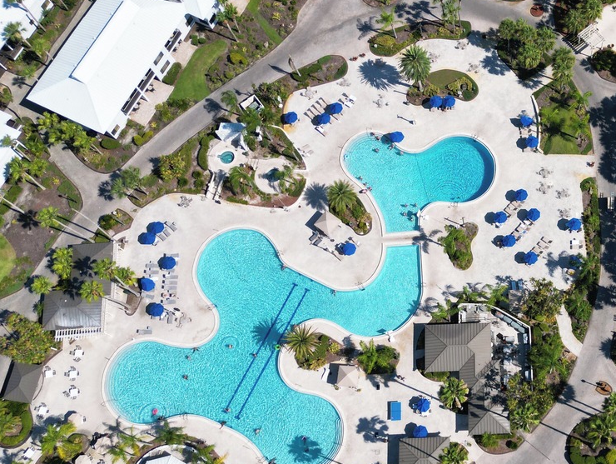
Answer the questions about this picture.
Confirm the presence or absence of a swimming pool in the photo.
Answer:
Yes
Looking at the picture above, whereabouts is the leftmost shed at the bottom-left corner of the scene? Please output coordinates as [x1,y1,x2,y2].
[3,363,47,404]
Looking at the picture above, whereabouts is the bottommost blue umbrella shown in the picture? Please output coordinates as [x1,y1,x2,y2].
[413,423,429,438]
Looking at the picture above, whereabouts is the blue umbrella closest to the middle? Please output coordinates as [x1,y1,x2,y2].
[342,242,357,256]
